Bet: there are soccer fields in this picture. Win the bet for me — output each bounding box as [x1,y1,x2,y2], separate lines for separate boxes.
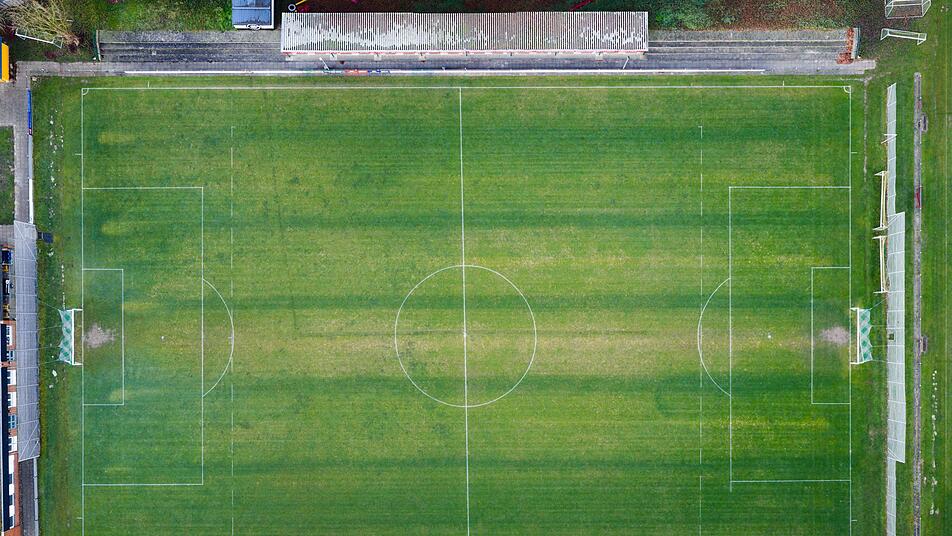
[64,80,866,536]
